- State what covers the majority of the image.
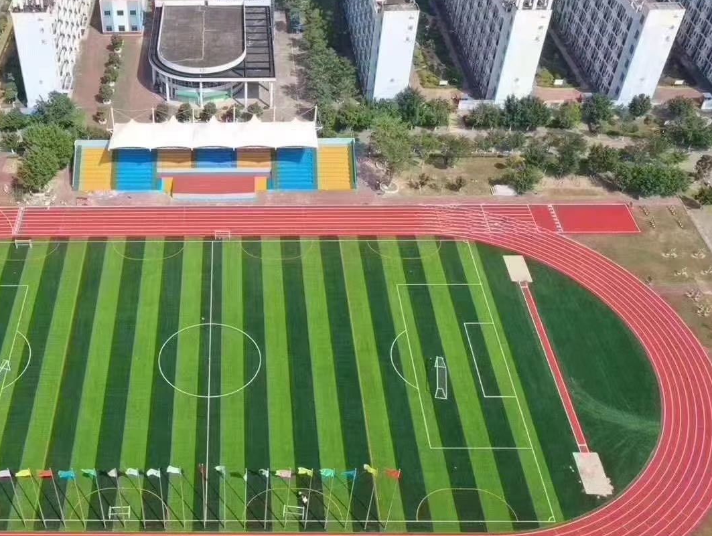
grass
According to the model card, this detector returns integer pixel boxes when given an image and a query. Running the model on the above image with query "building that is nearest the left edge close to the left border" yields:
[10,0,99,105]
